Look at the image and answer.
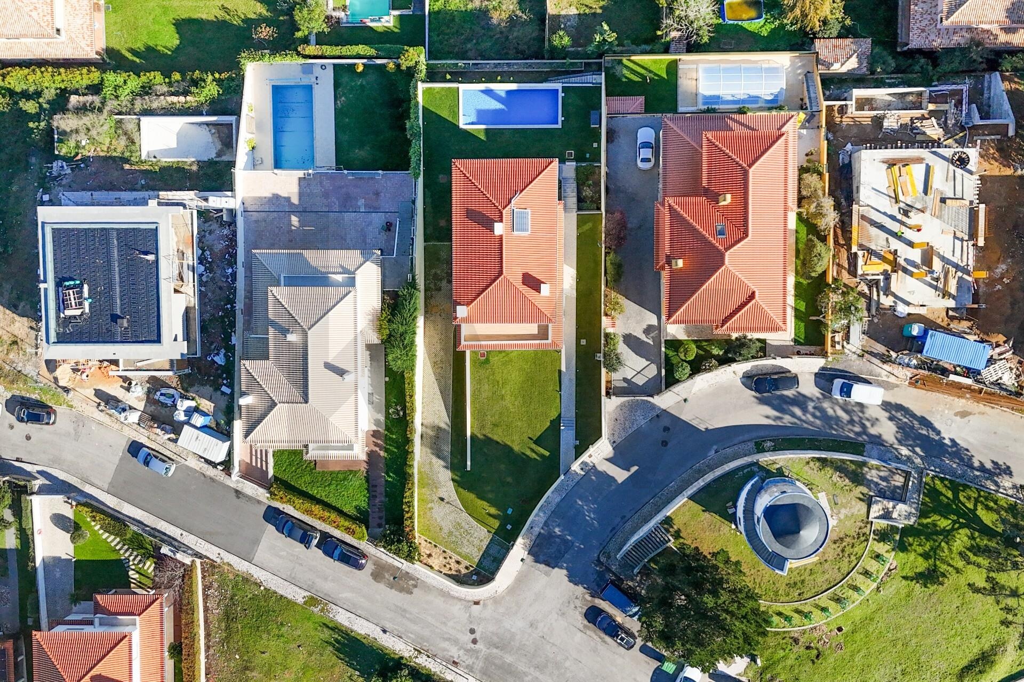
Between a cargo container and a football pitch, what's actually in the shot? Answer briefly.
cargo container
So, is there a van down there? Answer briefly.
Yes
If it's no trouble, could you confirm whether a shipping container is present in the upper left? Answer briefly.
No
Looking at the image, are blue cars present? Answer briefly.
Yes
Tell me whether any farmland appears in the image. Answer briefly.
No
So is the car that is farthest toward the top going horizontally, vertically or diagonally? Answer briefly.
vertically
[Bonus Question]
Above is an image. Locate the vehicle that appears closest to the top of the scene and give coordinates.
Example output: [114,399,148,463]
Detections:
[635,128,657,171]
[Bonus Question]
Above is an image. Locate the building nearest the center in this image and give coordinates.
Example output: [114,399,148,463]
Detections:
[451,157,564,351]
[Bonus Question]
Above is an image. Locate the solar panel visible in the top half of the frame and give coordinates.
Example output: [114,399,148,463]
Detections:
[511,192,531,234]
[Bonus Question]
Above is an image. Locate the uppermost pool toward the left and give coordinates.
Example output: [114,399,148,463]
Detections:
[344,0,393,26]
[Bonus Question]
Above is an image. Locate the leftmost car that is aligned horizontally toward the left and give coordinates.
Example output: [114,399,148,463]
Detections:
[16,403,61,425]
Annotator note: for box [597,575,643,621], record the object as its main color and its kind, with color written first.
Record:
blue van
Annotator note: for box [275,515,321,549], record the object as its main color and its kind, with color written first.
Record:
blue car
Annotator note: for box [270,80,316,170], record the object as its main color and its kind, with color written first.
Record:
blue swimming pool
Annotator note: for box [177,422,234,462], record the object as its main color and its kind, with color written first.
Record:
white shipping container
